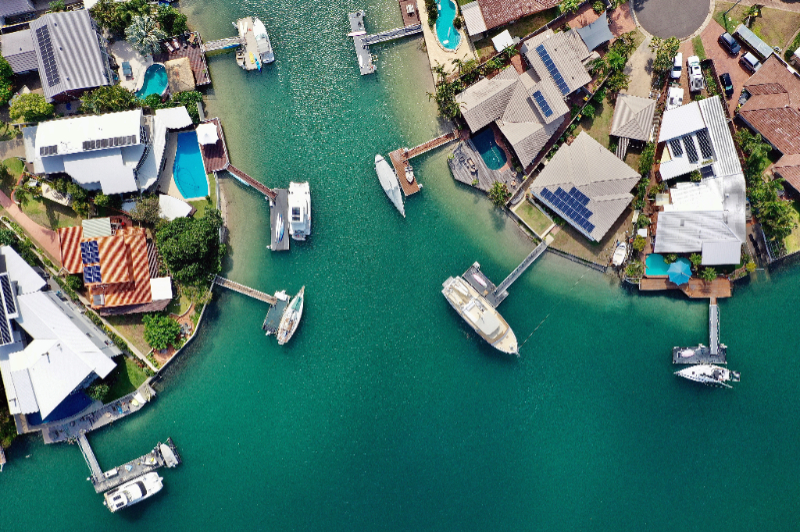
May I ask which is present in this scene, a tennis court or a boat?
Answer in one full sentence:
There is a boat in the scene.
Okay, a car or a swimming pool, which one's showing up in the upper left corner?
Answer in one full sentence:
The one visible in the upper left corner is a swimming pool.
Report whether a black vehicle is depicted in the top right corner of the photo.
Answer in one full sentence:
Yes, I can see a black vehicle in the top right corner of the photo.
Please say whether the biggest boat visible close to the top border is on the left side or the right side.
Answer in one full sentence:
The biggest boat visible close to the top border is on the left side of the image.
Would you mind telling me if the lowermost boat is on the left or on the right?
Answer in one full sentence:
It is on the left.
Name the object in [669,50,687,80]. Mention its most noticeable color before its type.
white vehicle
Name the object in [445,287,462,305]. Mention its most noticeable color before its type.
white boat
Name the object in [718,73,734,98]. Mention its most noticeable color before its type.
black car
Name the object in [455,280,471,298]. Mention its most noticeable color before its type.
white boat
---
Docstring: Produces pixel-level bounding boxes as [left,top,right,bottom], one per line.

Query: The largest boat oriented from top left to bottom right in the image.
[439,274,521,355]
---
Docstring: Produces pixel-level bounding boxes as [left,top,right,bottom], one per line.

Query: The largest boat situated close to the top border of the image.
[254,19,277,66]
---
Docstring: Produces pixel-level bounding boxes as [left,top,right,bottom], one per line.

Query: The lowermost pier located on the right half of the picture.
[672,345,727,364]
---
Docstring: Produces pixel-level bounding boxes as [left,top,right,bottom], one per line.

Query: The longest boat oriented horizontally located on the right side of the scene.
[674,365,738,384]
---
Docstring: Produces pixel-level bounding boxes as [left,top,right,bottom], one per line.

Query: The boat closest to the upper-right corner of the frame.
[610,243,626,266]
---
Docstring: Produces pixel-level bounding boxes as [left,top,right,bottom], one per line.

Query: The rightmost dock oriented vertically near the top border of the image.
[348,8,378,76]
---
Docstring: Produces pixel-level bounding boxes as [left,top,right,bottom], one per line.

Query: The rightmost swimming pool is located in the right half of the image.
[644,252,692,278]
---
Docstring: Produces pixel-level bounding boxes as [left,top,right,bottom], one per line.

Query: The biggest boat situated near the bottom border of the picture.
[102,473,165,512]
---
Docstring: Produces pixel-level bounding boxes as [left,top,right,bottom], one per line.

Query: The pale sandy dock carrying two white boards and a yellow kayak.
[232,16,263,72]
